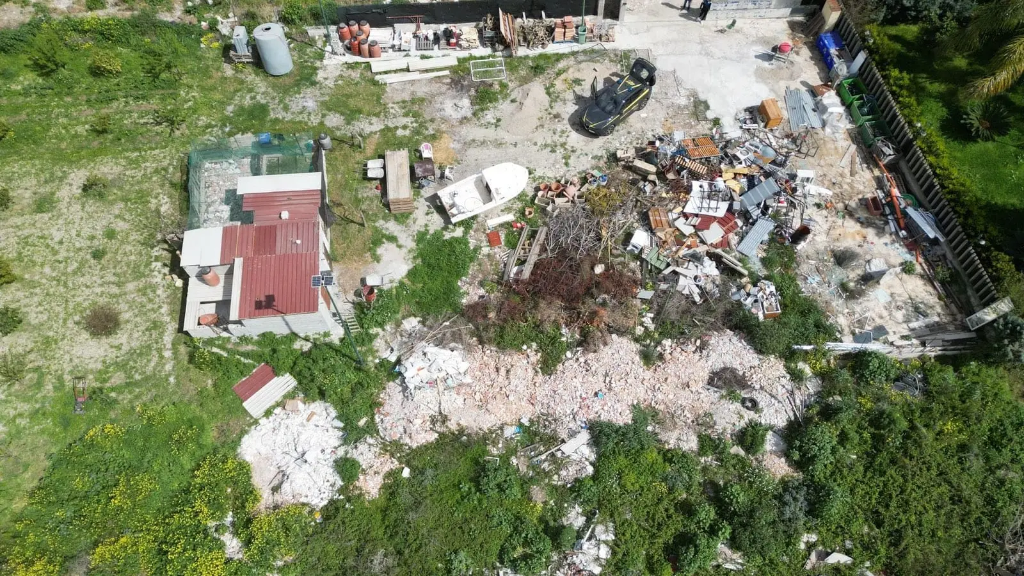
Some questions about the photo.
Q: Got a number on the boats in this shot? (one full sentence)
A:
I count just 1 boat.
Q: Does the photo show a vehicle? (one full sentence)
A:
Yes, I can see a vehicle in this picture.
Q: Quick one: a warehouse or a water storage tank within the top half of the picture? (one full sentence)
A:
The feature located within the top half of the picture is a water storage tank.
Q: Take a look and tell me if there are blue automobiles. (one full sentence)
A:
No, there isn't any blue automobile down there.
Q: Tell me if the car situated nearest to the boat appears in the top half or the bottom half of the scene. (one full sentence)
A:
Seen from above, the car situated nearest to the boat lies in the top half of the view.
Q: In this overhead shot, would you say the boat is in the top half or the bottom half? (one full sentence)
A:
The boat sits in the top half of the picture.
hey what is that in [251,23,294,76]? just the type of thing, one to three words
water tank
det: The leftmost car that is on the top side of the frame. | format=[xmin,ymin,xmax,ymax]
[577,52,664,139]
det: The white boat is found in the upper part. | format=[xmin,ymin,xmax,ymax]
[437,169,526,228]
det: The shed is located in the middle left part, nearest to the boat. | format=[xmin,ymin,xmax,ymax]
[181,172,331,339]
